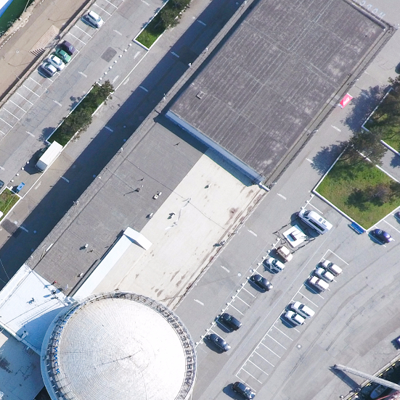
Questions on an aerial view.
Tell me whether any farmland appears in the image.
No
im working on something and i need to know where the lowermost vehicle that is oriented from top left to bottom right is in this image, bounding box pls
[232,382,255,400]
